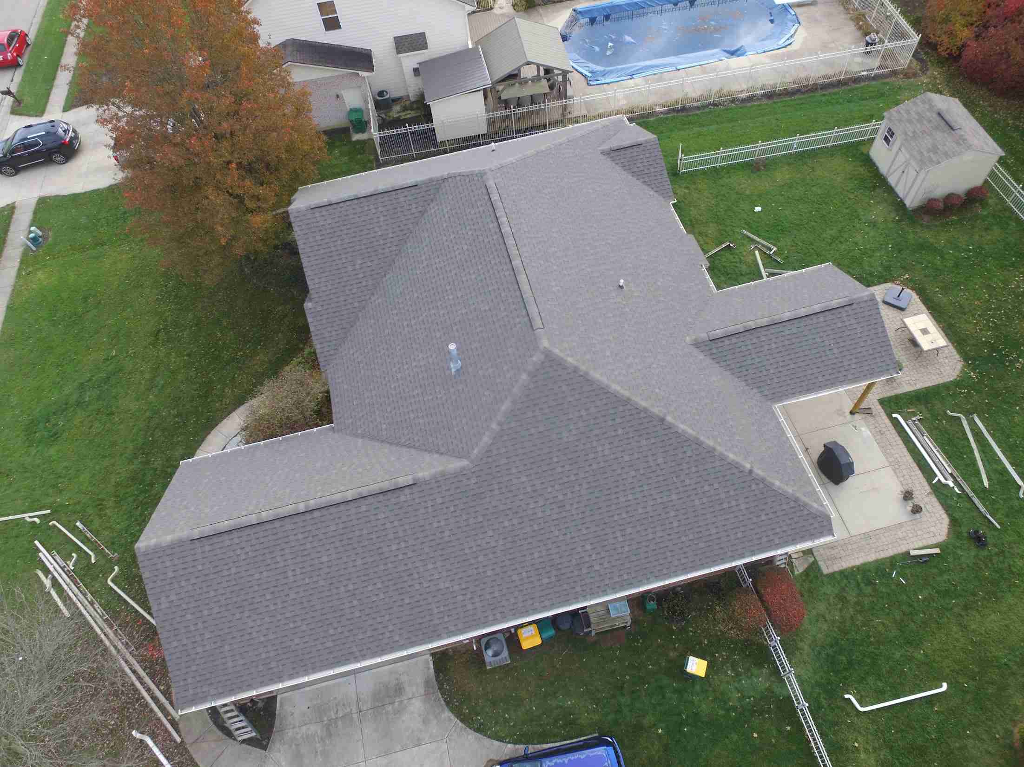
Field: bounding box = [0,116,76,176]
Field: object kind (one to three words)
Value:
car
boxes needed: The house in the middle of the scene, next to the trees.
[135,114,901,717]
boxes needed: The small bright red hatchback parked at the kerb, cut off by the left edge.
[0,27,28,72]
